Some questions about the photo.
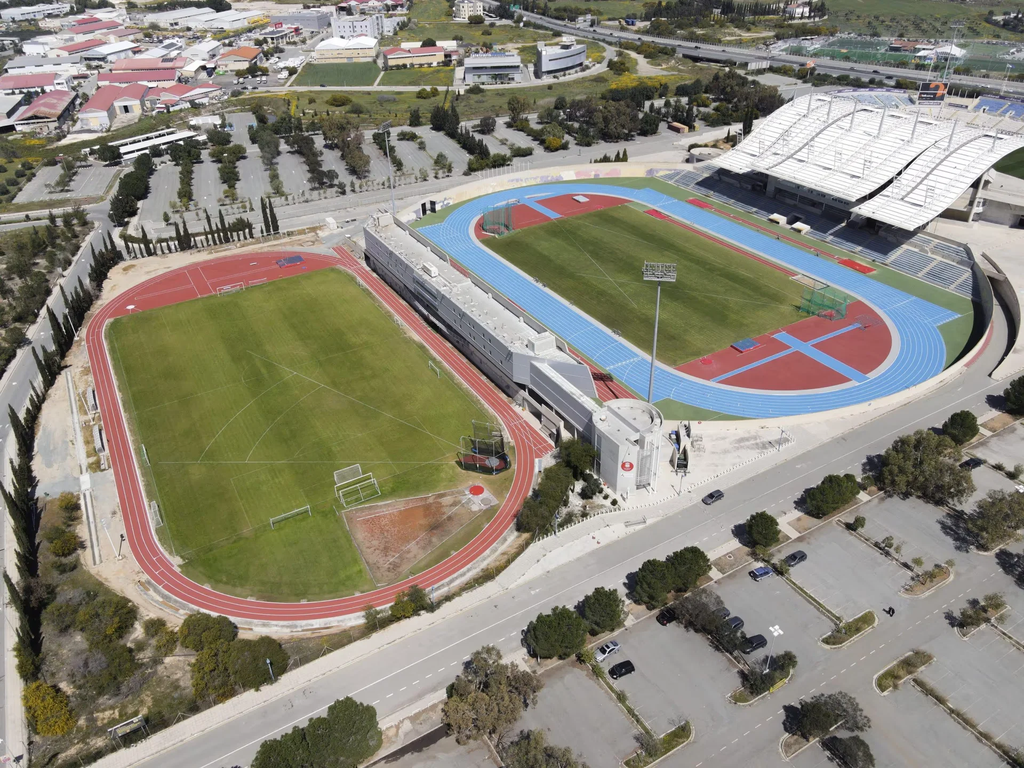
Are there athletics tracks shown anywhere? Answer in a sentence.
Yes, you can see an athletics track in this photo.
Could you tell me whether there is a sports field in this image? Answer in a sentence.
Yes, a sports field can be made out from above.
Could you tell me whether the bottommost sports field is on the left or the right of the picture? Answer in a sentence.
The bottommost sports field sits on the left side.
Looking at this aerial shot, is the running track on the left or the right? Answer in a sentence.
It is on the right.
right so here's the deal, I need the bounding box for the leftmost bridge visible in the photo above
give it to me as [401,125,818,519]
[667,52,762,73]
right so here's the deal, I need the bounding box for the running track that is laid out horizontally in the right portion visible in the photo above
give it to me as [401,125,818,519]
[420,184,959,418]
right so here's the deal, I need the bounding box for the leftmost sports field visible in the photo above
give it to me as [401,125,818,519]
[102,265,515,603]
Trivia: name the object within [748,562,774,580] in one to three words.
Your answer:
car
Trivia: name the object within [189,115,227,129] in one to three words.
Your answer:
shed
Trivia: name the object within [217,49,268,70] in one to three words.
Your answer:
building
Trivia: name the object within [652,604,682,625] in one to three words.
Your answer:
car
